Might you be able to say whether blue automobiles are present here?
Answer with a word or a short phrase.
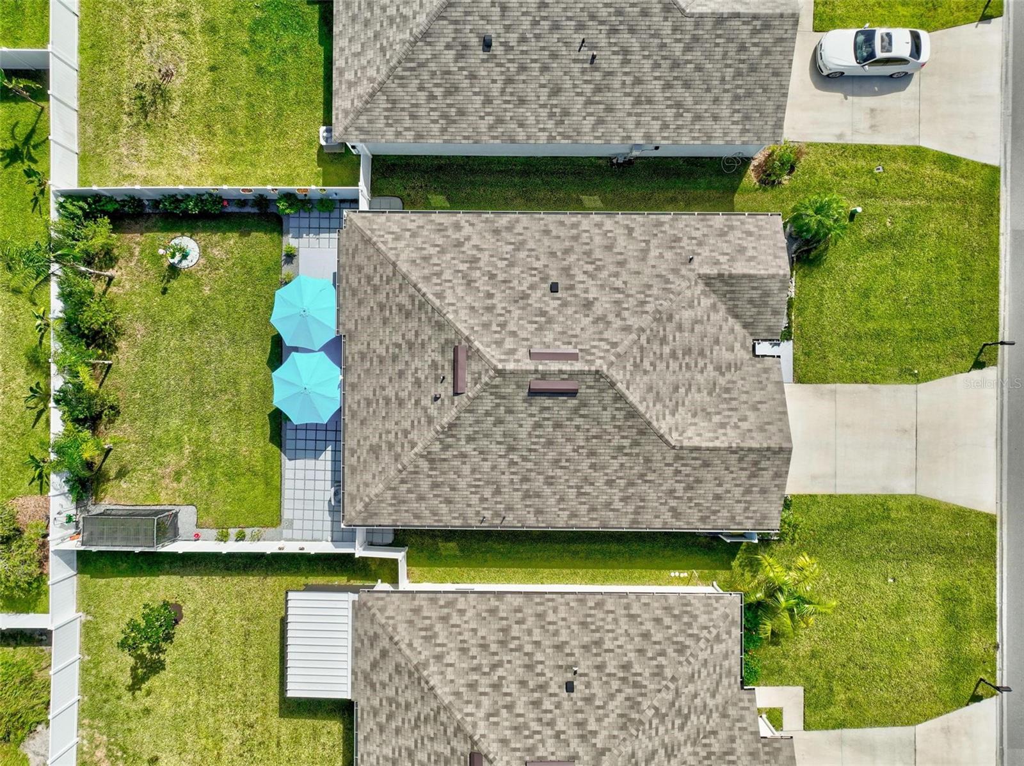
No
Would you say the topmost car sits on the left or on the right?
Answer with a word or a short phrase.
right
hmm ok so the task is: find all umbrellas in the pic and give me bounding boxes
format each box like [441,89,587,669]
[274,353,342,424]
[270,276,339,351]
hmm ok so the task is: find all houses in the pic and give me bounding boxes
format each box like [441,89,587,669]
[335,209,794,531]
[330,0,802,161]
[349,577,795,766]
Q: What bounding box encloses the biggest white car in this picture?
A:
[815,20,930,80]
